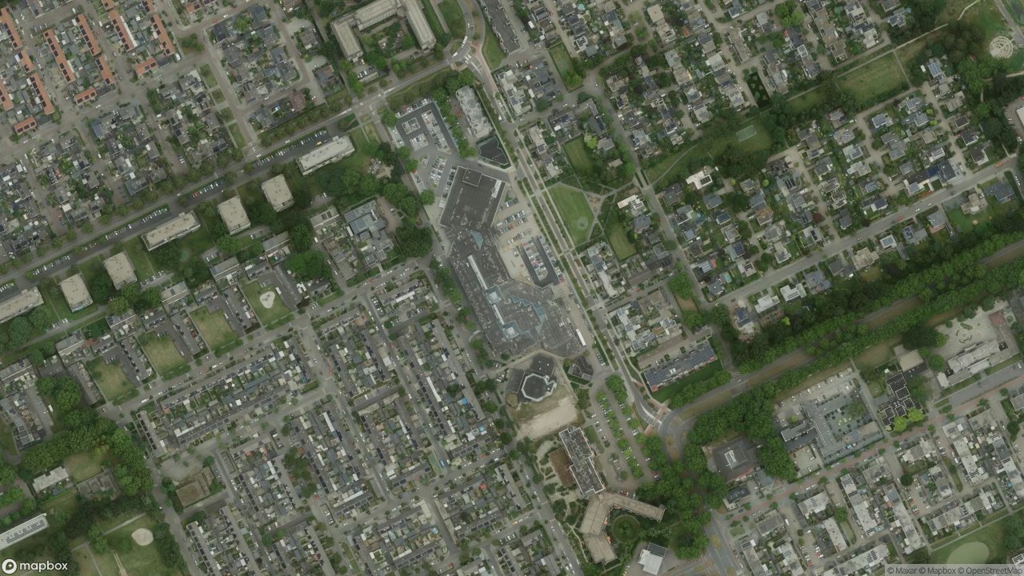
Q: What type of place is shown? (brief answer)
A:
residential area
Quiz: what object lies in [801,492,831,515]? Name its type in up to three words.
house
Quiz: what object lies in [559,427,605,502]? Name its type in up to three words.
building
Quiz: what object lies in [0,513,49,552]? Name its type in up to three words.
building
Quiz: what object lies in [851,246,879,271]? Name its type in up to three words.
house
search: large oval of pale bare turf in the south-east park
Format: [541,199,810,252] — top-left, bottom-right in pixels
[949,540,989,568]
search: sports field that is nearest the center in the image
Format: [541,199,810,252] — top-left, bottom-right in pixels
[550,185,593,243]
